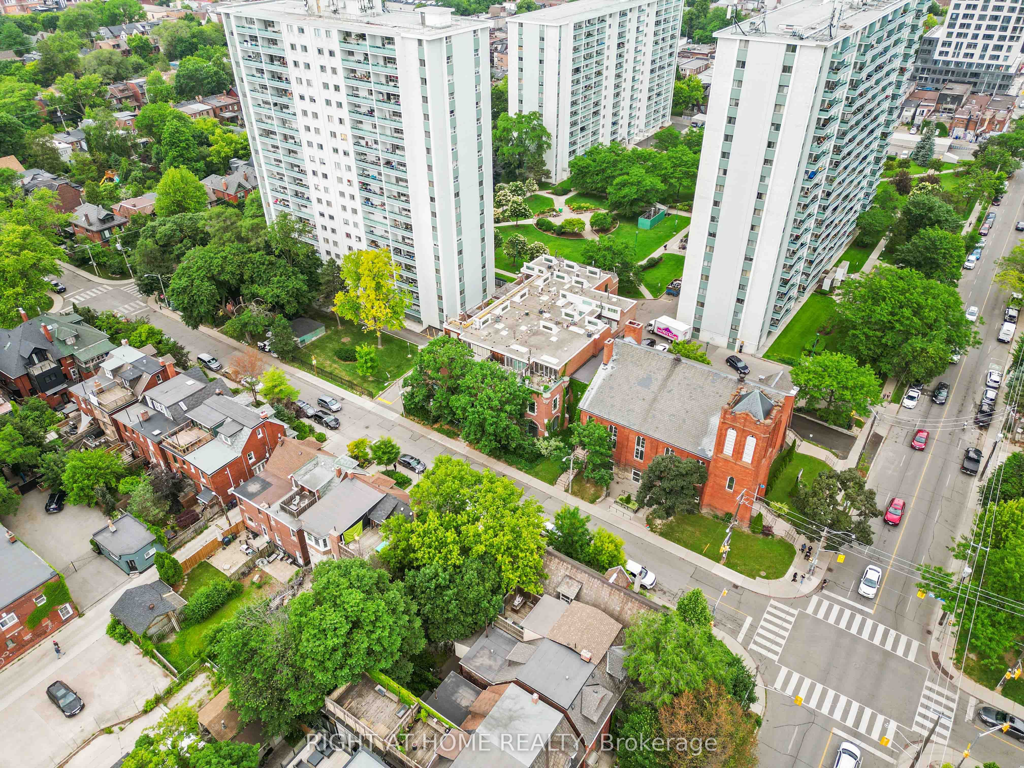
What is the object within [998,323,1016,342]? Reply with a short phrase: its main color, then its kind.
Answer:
white vehicle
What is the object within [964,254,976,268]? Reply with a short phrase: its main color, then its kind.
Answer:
white vehicle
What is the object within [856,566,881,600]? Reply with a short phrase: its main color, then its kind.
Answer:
white car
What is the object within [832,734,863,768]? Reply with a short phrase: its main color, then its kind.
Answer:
white car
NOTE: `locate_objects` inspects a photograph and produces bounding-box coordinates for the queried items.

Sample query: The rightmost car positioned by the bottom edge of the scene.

[973,701,1024,740]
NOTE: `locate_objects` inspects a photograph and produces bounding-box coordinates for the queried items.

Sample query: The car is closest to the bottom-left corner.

[45,679,86,720]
